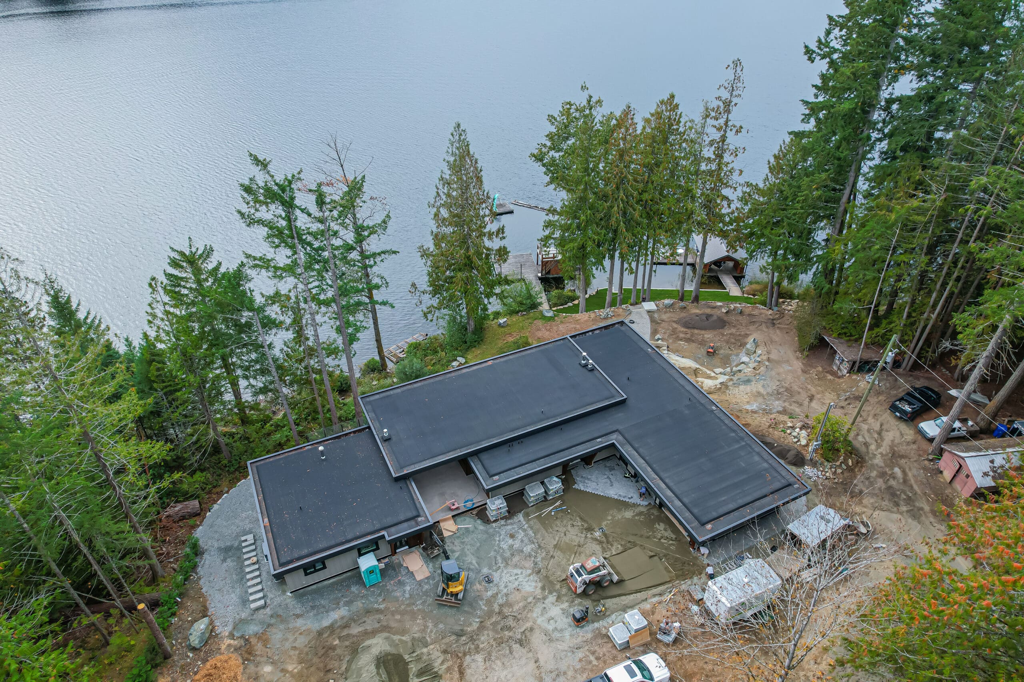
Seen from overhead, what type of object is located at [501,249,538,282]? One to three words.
pier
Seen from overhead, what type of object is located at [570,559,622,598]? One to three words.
work vehicle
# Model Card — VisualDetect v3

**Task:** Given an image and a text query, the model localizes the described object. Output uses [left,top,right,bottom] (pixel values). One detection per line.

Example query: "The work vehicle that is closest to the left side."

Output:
[435,527,470,611]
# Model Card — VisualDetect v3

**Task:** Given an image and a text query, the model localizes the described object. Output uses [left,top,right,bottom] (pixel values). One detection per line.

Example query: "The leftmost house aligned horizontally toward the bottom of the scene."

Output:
[248,315,812,594]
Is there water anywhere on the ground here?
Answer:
Yes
